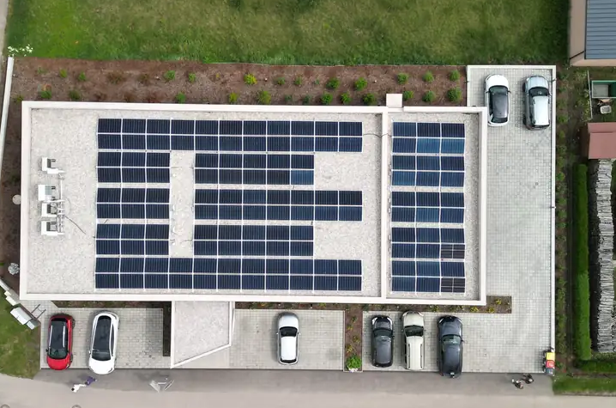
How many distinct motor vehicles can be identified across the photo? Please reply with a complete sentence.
Looking from above, you can make out 8 motor vehicles.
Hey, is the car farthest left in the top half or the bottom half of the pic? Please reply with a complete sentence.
Seen from above, the car farthest left lies in the bottom half of the view.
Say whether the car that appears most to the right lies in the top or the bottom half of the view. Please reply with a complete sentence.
It is in the top half that the car that appears most to the right appears.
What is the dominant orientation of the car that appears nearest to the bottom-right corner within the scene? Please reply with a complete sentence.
Seen from above, the car that appears nearest to the bottom-right corner lies vertically.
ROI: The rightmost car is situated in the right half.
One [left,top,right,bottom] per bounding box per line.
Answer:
[522,75,552,129]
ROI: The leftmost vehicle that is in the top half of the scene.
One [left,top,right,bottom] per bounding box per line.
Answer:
[484,74,512,127]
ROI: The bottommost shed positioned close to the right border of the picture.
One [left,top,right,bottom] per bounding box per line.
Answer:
[582,121,616,159]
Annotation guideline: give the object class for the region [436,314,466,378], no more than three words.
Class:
car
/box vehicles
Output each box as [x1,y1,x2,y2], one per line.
[369,315,396,367]
[401,310,427,370]
[484,74,512,127]
[87,311,119,374]
[436,314,466,378]
[45,314,75,368]
[275,311,302,365]
[522,75,552,129]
